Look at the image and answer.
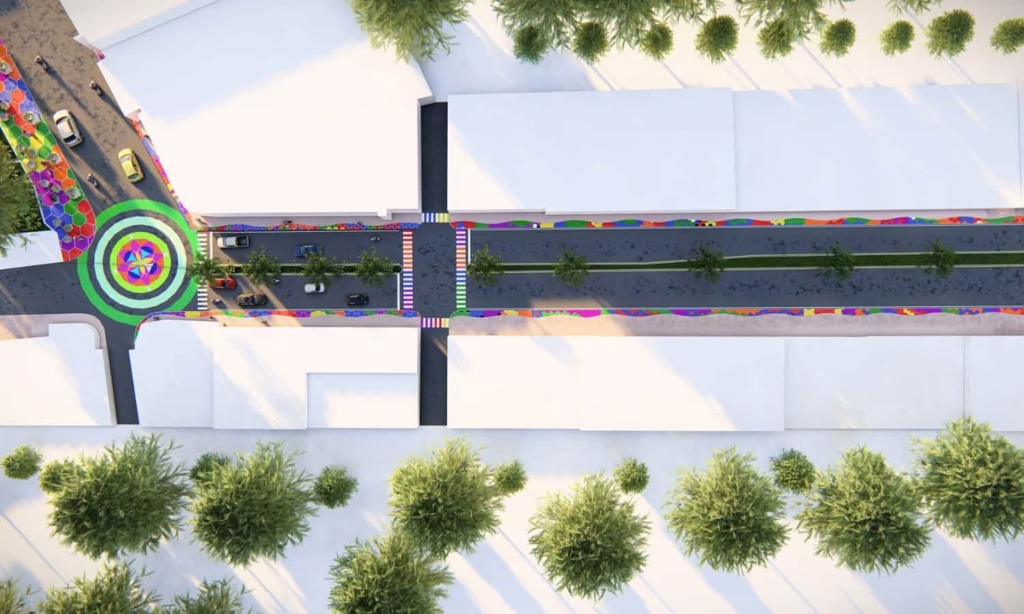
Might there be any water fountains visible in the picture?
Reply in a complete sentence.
No, this view has no water fountain in it.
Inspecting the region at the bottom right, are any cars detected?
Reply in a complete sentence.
No, no car can be made out at the bottom right.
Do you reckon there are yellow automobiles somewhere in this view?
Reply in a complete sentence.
Yes, a yellow automobile can be made out from above.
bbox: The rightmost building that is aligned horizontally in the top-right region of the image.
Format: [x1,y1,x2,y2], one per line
[729,83,1020,214]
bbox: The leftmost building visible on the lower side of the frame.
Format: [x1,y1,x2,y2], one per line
[0,323,121,426]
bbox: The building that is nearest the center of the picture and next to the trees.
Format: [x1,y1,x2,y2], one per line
[448,335,581,428]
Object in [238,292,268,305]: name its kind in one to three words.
vehicle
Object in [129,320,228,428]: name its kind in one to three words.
building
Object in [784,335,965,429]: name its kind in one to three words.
building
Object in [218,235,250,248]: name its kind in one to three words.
vehicle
